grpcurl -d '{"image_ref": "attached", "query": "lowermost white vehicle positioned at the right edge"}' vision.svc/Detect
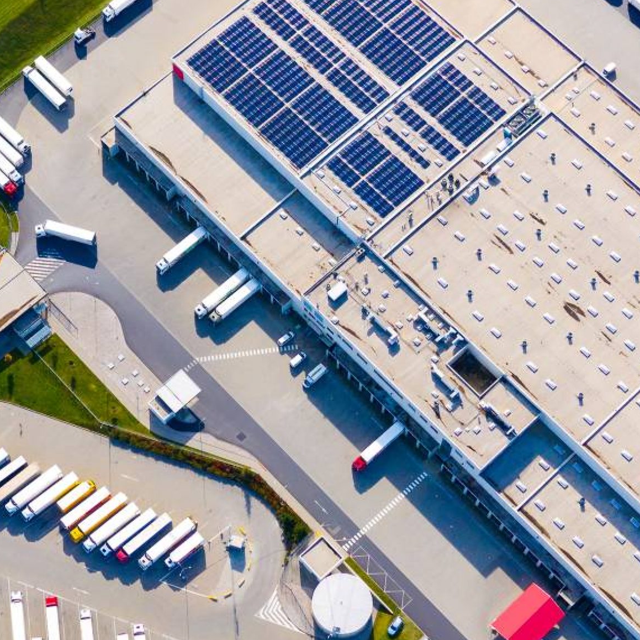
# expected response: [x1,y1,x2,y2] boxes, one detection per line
[603,60,616,79]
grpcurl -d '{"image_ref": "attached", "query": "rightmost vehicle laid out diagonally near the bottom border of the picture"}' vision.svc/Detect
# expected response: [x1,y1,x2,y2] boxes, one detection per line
[387,618,401,637]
